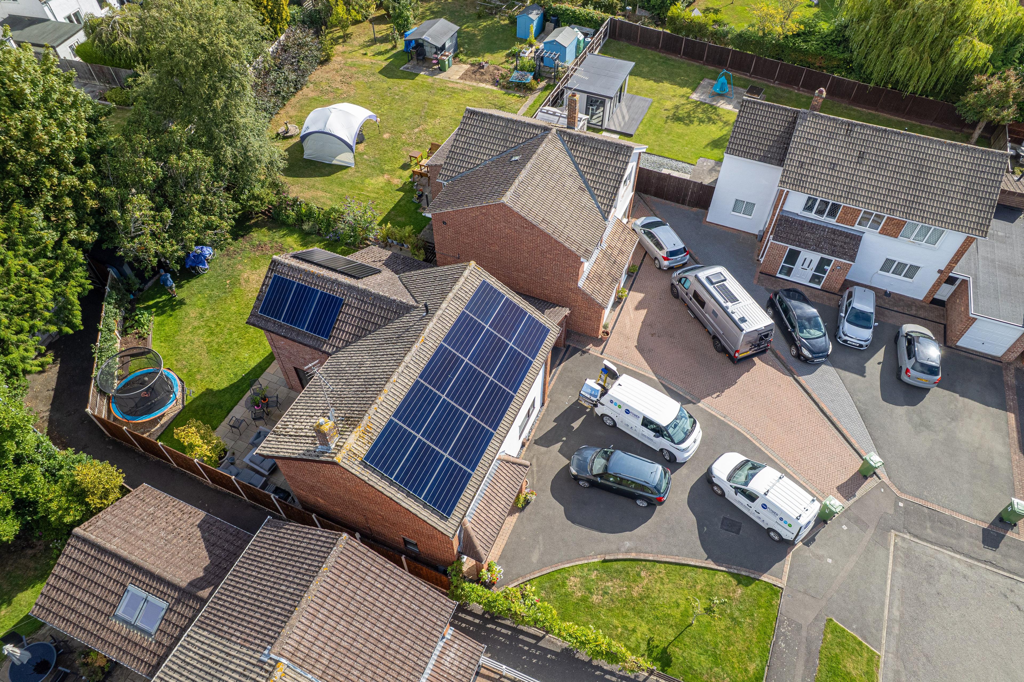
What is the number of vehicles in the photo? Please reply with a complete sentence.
The number of vehicles here is 8.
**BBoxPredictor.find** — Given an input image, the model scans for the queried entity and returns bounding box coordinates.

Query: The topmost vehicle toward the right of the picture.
[636,215,693,272]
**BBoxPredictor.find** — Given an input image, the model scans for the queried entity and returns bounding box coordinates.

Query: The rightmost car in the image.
[896,324,945,395]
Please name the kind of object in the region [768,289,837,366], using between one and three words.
car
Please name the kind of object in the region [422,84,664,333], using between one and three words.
house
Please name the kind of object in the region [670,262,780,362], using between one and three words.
van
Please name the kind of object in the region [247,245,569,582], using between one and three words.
house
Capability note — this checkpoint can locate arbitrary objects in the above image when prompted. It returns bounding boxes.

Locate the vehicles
[636,215,693,272]
[670,262,780,362]
[581,356,707,465]
[896,324,945,395]
[768,289,837,366]
[568,443,671,507]
[707,453,827,550]
[836,286,882,351]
